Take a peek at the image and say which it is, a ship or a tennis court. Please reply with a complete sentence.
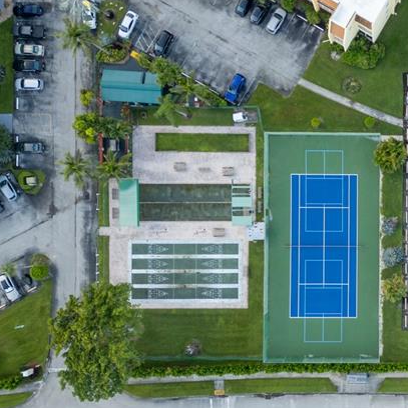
I can see a tennis court in this picture.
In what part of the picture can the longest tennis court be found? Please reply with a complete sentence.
The longest tennis court sits in the right section of the image.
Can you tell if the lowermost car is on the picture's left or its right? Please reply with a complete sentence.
You can find the lowermost car on the left side of the picture.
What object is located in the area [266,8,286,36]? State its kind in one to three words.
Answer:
car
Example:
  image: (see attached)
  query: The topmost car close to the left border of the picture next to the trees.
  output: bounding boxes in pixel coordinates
[14,2,45,18]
